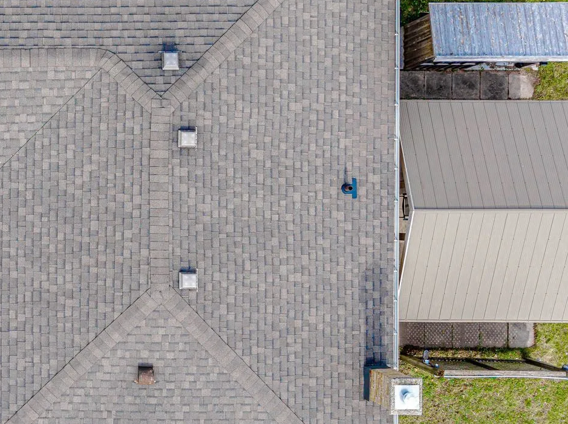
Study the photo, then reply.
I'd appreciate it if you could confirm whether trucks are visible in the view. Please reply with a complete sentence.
No, there's no truck here.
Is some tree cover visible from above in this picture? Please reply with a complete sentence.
No, the scene doesn't show any tree cover.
